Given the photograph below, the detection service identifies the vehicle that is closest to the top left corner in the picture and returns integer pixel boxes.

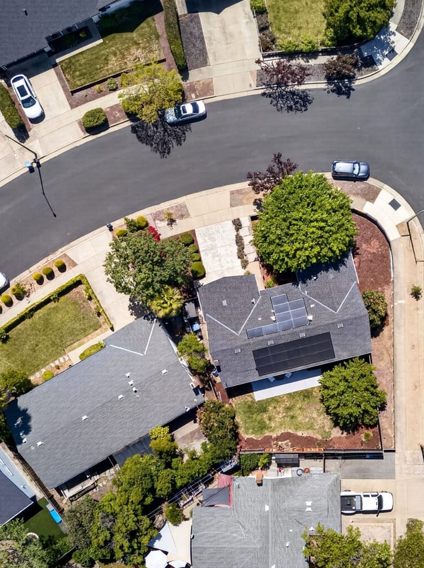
[11,73,44,121]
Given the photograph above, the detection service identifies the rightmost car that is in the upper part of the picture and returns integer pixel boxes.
[331,161,370,181]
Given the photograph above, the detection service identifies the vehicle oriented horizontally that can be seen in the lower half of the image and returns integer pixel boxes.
[341,491,393,514]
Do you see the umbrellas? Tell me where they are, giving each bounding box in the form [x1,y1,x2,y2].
[169,559,187,567]
[146,548,168,568]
